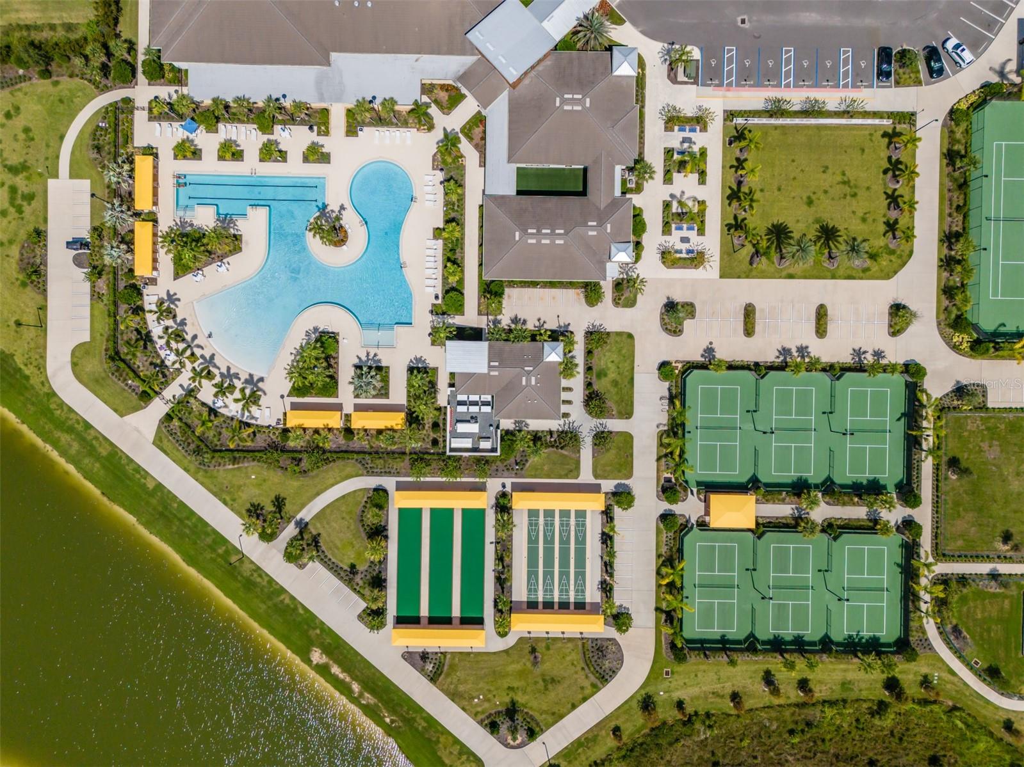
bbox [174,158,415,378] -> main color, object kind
blue swimming pool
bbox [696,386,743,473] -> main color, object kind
green sports court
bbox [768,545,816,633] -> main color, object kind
green sports court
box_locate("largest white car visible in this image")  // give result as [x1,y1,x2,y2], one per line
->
[946,38,974,69]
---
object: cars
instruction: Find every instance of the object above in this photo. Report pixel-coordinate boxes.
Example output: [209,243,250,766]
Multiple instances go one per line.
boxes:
[879,45,897,80]
[946,38,974,69]
[925,44,947,77]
